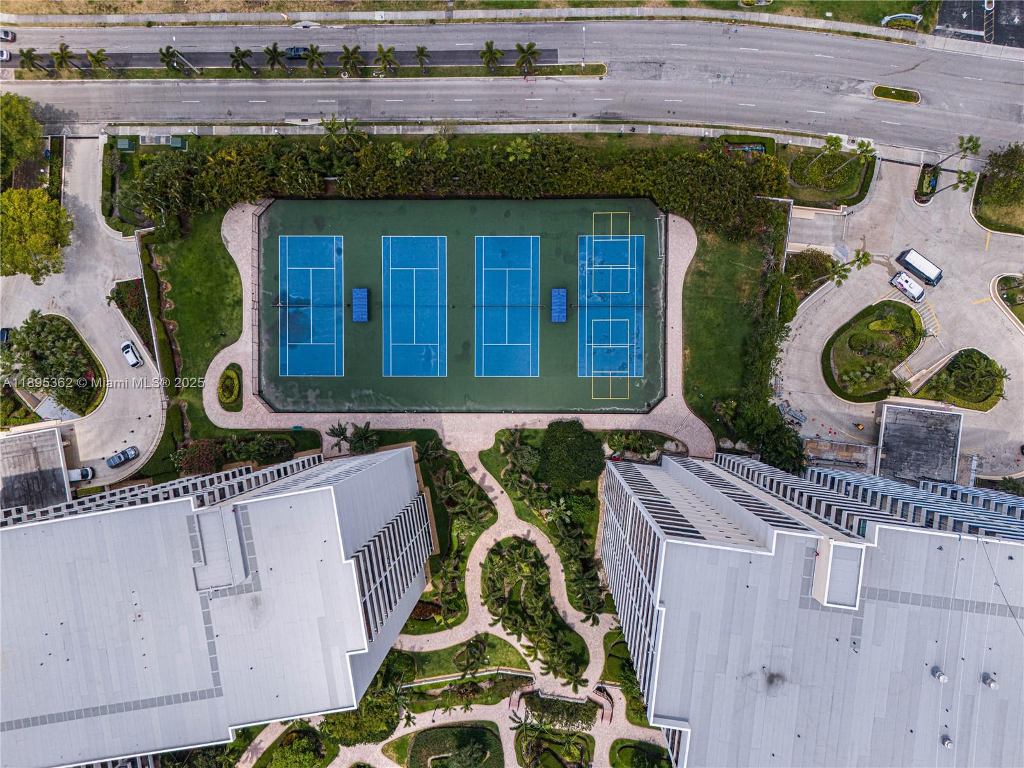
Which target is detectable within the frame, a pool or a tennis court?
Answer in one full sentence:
There is a tennis court in the scene.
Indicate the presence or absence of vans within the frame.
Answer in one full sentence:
Yes, there is a van in the image.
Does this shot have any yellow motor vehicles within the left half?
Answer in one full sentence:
No, I see no yellow motor vehicle within the left half.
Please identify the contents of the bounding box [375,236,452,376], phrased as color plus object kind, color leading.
blue tennis court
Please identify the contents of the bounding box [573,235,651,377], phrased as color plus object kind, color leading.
blue tennis court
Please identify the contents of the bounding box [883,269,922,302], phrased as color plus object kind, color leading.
white van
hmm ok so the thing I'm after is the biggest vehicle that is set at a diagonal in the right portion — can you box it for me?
[891,245,945,287]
